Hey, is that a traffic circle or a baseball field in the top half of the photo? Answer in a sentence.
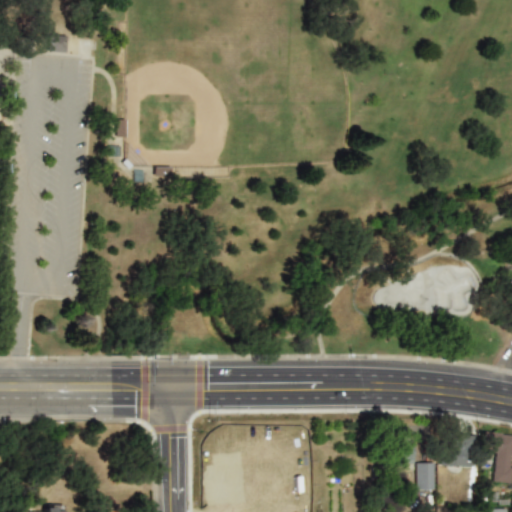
You can see a baseball field in the top half of the photo.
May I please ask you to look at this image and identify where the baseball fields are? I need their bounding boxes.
[128,62,228,166]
